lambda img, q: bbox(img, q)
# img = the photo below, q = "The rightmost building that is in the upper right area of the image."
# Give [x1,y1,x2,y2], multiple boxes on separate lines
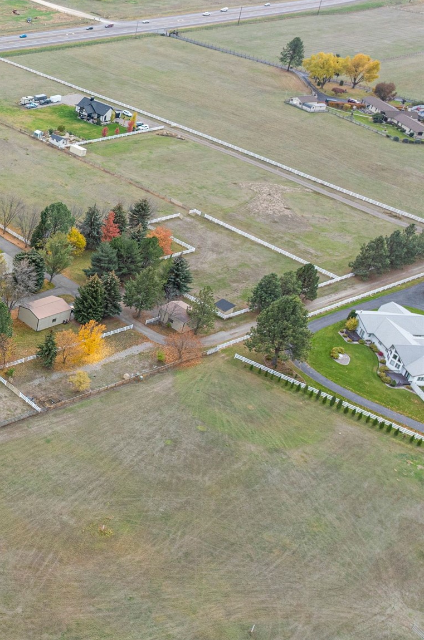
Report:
[364,97,424,139]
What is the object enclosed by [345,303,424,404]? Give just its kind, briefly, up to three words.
house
